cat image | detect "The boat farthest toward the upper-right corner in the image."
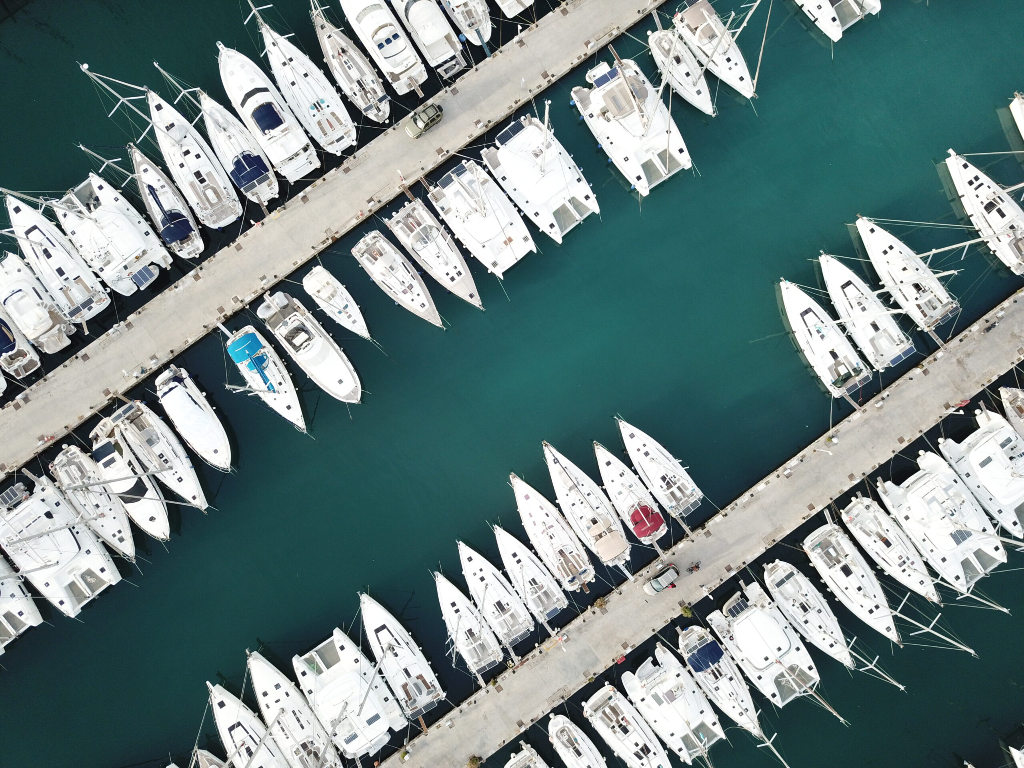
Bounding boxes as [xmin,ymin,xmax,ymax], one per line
[993,90,1024,140]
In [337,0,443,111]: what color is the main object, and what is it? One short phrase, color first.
white boat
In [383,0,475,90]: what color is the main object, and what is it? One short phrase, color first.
white boat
